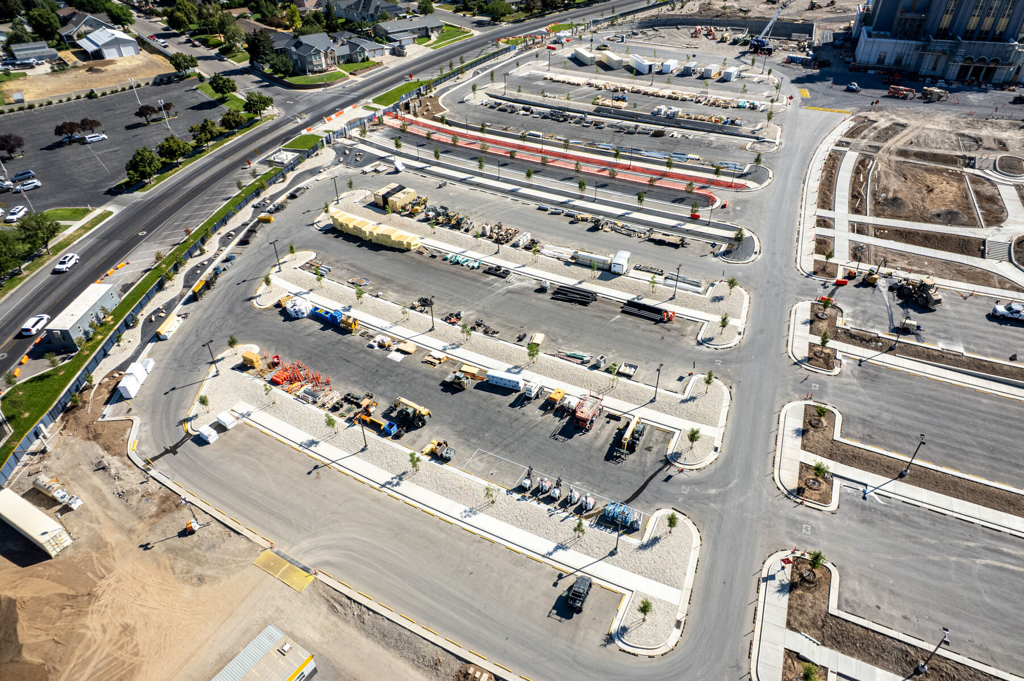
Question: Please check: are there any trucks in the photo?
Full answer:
Yes, the picture does show a truck.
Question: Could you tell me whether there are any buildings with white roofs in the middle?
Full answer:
No, in the middle there is no building with a white roof.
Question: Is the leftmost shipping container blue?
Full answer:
No, the leftmost shipping container is actually white.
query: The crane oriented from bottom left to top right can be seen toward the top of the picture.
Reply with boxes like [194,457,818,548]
[735,0,792,56]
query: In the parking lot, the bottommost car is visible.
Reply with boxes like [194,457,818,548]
[563,572,594,621]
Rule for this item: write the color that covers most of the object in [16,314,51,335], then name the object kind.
white car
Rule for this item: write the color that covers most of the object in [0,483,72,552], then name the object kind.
white shipping container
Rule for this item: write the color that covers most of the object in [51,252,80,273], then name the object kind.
white car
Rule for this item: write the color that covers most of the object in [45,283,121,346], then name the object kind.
white trailer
